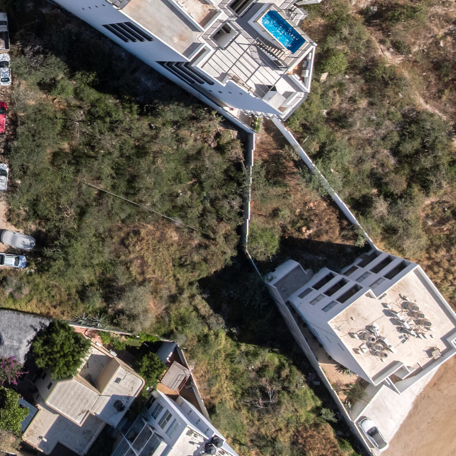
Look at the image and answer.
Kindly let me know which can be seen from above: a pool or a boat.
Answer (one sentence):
I can see a pool in this picture.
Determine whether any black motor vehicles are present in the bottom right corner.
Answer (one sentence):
No, there's no black motor vehicle to be seen in the bottom right corner.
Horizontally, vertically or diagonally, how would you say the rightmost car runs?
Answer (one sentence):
The rightmost car runs diagonally in the image.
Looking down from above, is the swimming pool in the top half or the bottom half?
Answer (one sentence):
The swimming pool is in the top half of the image.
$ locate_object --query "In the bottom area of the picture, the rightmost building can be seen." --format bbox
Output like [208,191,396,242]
[255,245,456,394]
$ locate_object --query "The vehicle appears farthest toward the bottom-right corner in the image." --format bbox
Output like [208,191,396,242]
[358,416,392,455]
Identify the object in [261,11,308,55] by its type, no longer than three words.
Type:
swimming pool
